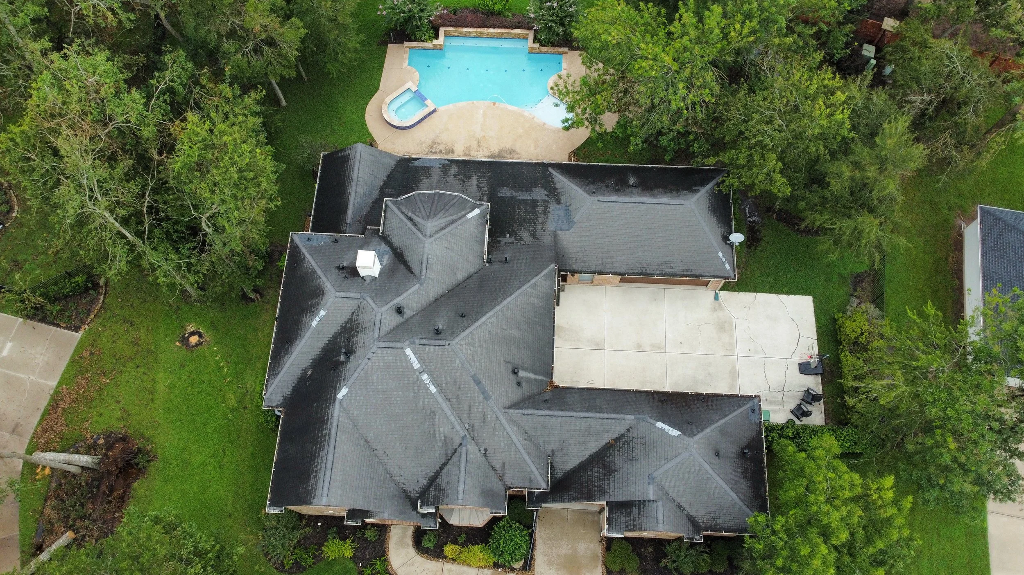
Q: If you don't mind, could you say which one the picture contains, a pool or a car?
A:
pool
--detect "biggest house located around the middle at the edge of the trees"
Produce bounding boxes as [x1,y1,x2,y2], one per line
[261,141,774,545]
